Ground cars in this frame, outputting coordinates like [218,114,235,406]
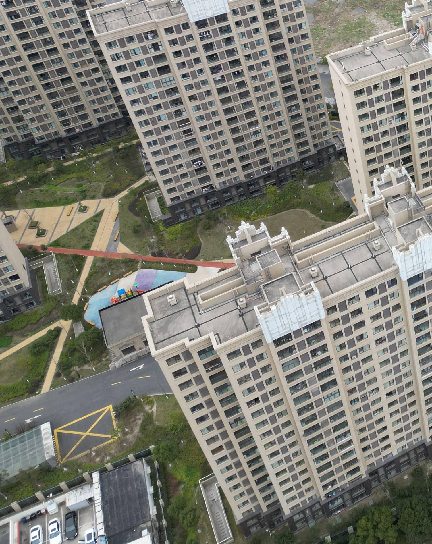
[81,525,100,544]
[28,527,43,544]
[63,515,79,542]
[46,520,64,544]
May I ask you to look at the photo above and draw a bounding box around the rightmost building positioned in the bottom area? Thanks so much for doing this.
[139,167,432,539]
